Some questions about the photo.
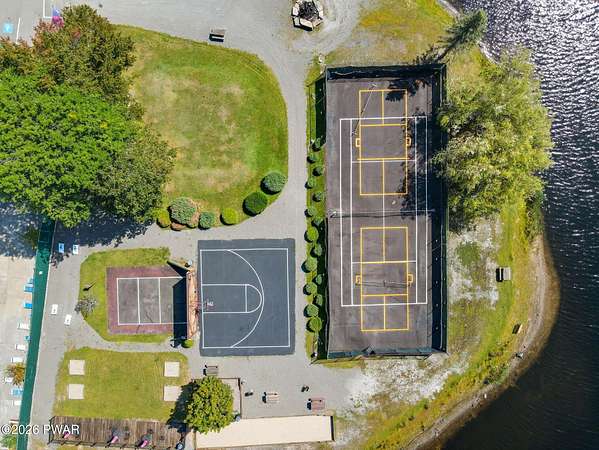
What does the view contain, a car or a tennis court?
tennis court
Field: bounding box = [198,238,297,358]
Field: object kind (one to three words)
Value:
basketball court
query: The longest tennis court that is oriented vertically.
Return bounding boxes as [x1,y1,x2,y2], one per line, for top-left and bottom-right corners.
[326,70,441,353]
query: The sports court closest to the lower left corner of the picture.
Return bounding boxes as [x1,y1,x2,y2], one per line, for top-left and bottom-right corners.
[106,266,197,335]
